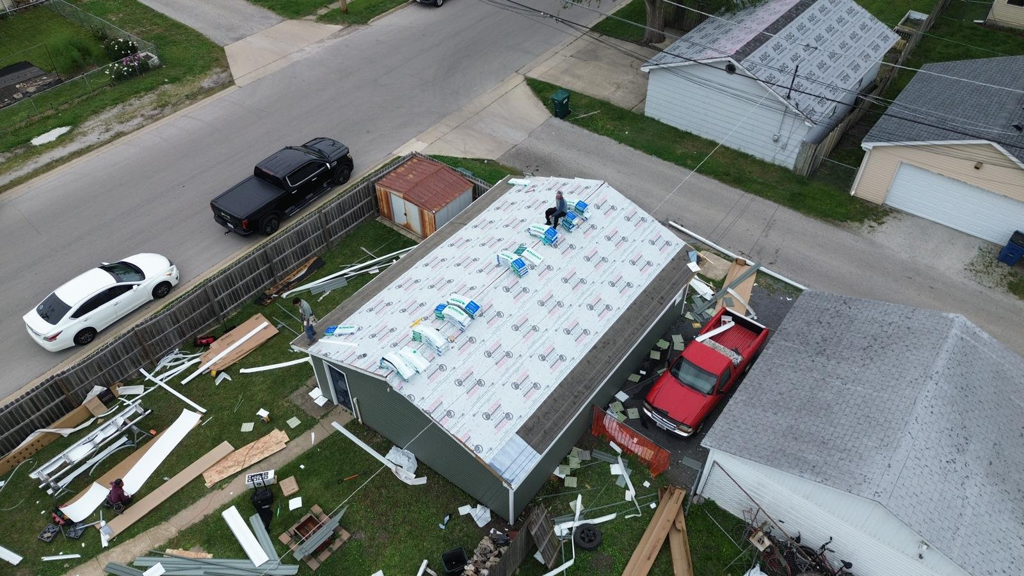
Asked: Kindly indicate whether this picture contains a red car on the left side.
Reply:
No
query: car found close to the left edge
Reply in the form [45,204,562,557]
[28,248,186,351]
